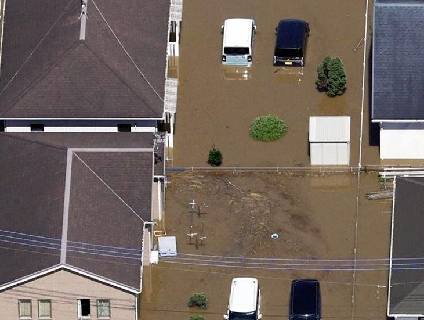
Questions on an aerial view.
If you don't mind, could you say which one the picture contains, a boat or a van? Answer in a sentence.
I can see a van in this picture.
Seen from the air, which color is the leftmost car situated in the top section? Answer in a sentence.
The leftmost car situated in the top section looks white in the image.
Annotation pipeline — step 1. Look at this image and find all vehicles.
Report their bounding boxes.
[222,275,263,320]
[272,17,311,65]
[285,278,324,320]
[220,19,258,65]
